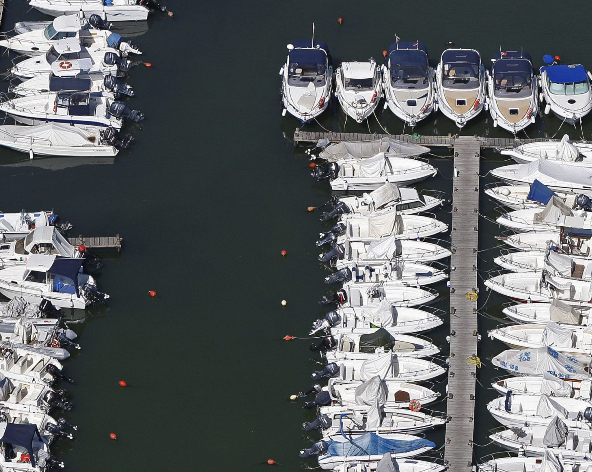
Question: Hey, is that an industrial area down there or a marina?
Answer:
marina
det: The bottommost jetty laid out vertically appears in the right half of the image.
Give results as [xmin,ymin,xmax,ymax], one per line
[442,136,481,472]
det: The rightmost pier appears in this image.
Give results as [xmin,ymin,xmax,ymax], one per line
[480,137,592,156]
